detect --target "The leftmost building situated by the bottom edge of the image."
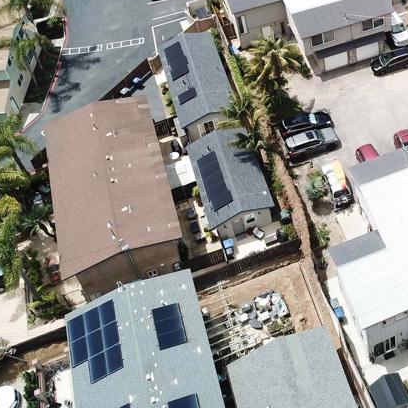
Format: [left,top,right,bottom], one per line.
[66,270,225,408]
